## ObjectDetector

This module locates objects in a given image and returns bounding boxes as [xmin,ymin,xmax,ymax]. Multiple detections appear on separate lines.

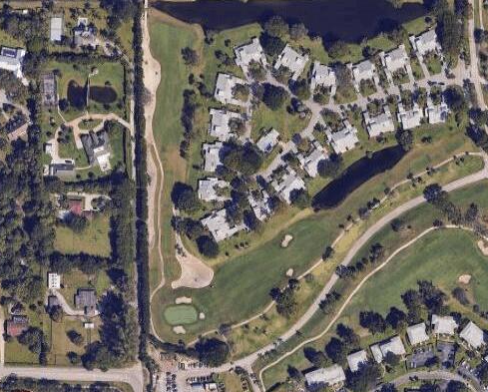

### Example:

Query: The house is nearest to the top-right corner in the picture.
[408,24,441,60]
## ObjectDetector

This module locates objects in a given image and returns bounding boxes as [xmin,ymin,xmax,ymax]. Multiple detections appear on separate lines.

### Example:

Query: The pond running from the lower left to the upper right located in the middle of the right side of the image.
[312,145,407,209]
